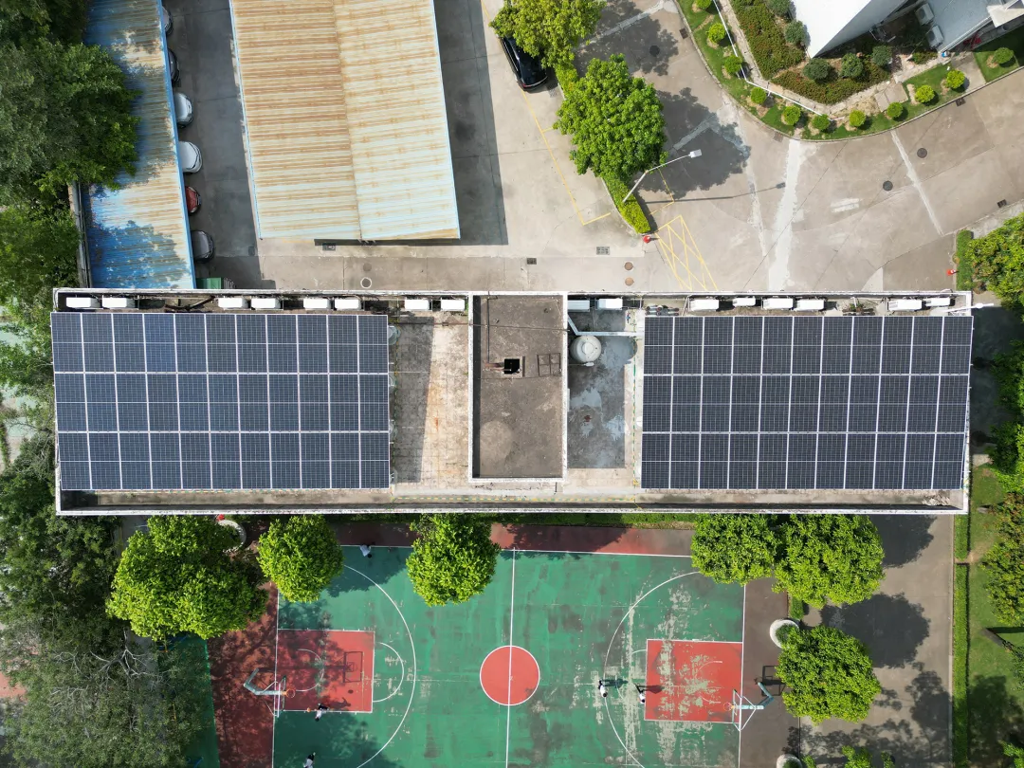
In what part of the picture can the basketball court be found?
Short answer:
bottom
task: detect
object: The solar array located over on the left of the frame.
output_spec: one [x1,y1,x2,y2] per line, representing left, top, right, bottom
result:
[50,314,395,489]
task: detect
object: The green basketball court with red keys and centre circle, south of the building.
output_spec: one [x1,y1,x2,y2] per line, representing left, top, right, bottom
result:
[205,514,799,768]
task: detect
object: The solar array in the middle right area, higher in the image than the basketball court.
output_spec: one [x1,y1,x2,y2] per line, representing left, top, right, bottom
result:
[636,316,974,489]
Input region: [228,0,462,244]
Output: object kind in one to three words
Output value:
shed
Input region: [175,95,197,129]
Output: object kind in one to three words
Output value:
car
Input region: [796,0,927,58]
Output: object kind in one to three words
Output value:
building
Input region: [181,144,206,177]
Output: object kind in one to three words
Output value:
car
